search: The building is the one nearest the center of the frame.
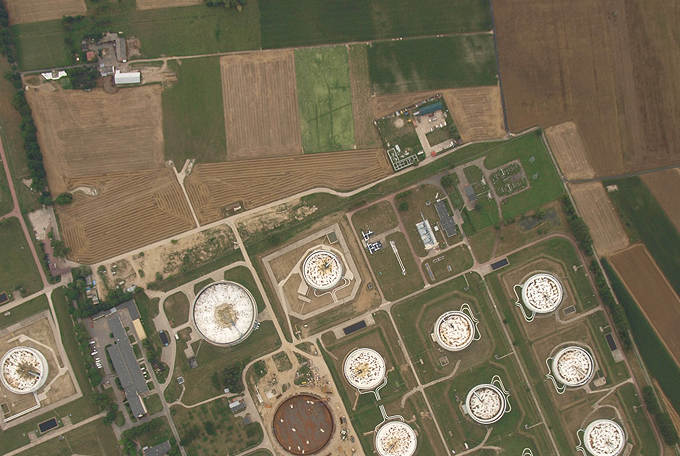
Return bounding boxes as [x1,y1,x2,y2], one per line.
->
[416,213,438,249]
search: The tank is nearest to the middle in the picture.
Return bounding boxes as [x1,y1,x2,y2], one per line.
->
[302,248,343,288]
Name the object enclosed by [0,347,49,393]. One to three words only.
storage tank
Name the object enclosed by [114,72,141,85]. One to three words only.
barn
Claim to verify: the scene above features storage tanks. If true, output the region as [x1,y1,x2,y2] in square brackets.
[302,248,343,288]
[0,347,49,393]
[345,347,387,389]
[465,383,507,425]
[551,346,594,388]
[270,391,337,456]
[582,418,625,456]
[522,274,564,315]
[375,419,417,456]
[191,280,257,346]
[434,310,475,352]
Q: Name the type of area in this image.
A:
industrial area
